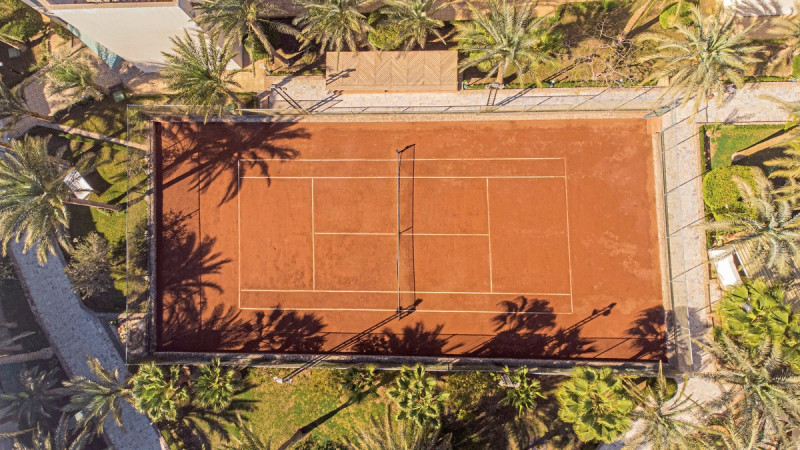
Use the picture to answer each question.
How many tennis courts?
1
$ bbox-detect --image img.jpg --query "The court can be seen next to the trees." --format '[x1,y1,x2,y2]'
[155,112,666,362]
